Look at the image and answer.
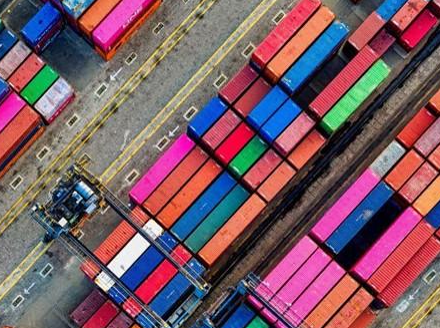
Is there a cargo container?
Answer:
Yes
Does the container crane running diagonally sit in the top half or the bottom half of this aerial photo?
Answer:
bottom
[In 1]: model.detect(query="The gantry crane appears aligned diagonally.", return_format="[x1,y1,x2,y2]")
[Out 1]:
[28,161,216,328]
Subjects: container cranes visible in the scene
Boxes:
[28,161,216,328]
[196,276,311,328]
